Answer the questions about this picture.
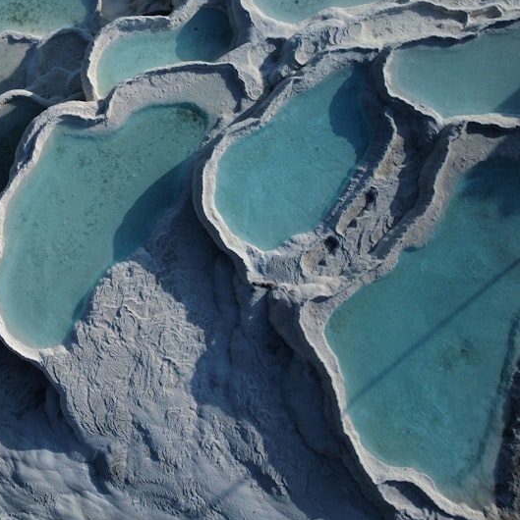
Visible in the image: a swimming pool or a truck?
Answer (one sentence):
The one in the frame is a swimming pool.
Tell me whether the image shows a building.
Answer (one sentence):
No, no building can be seen from above.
